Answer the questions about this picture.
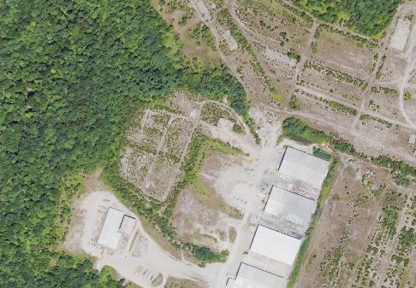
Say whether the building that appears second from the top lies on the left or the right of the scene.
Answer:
right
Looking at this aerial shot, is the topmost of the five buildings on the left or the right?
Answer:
right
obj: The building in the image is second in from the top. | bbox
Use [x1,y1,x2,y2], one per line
[263,184,314,225]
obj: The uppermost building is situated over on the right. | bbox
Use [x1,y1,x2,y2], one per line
[278,146,328,184]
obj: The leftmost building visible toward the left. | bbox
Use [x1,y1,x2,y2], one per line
[97,208,137,248]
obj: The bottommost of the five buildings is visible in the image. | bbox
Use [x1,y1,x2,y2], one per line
[226,262,285,288]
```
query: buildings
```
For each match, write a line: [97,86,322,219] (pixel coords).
[249,225,300,266]
[97,208,137,248]
[226,262,285,288]
[263,184,314,225]
[278,146,328,184]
